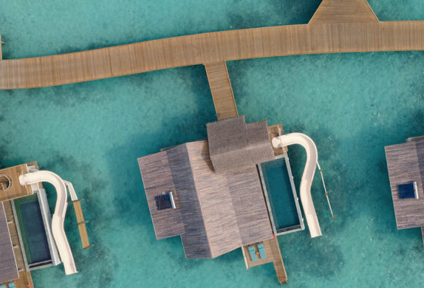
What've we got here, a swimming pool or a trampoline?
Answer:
swimming pool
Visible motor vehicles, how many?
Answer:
0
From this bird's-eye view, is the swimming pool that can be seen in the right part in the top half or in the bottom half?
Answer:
bottom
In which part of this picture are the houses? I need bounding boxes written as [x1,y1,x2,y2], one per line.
[137,114,290,282]
[384,135,424,246]
[0,158,61,288]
